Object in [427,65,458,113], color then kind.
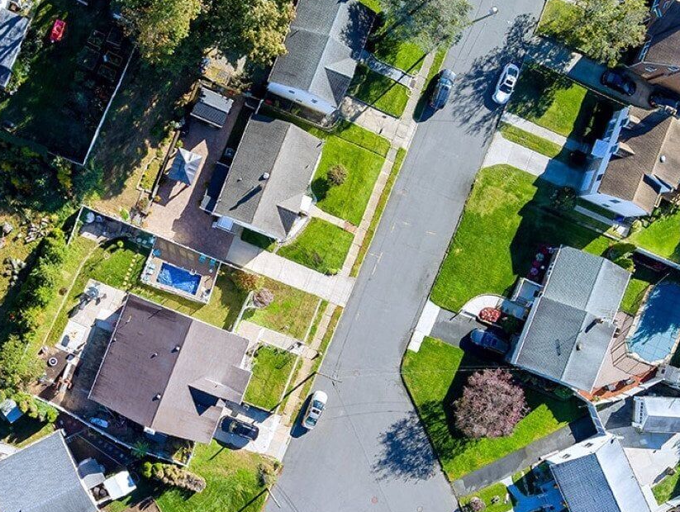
blue car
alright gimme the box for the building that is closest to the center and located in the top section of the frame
[203,113,324,243]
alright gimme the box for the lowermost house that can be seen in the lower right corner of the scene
[542,436,650,512]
